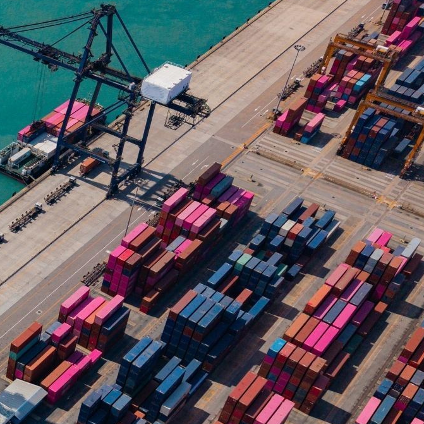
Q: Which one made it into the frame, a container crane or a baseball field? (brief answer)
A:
container crane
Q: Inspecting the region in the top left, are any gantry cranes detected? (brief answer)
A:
Yes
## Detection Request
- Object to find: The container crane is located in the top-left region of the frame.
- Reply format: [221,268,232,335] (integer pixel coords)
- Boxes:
[0,0,217,200]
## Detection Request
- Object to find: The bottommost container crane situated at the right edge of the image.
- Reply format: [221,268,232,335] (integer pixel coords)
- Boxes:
[332,88,424,181]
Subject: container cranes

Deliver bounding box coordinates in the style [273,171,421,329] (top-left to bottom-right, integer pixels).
[332,88,424,181]
[307,27,403,110]
[0,0,217,200]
